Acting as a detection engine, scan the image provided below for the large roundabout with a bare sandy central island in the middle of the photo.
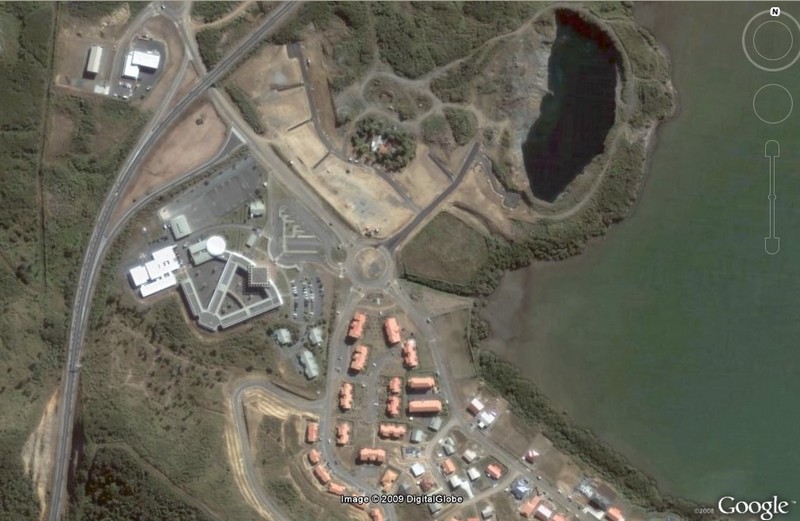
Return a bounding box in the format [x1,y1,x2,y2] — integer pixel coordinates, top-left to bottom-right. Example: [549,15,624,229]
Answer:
[338,238,399,303]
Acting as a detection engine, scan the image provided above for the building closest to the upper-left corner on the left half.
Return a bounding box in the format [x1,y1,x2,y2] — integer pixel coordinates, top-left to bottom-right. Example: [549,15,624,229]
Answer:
[86,45,102,73]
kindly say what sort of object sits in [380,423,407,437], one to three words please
building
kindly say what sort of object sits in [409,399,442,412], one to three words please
building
